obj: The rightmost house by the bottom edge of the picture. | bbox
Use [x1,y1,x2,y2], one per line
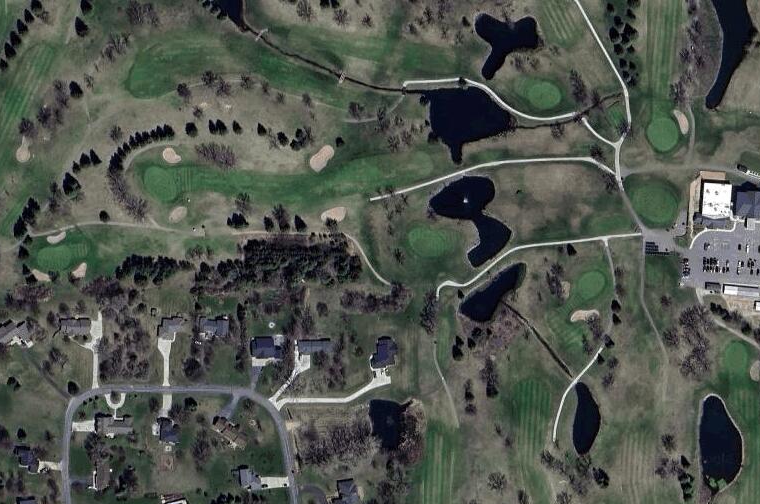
[333,479,358,504]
